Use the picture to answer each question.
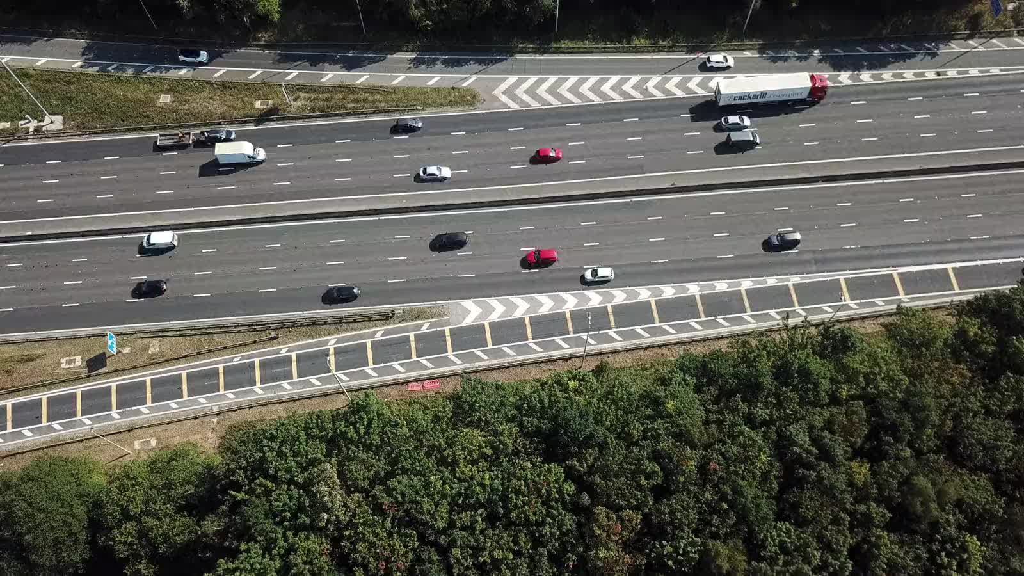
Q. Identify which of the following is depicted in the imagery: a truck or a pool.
truck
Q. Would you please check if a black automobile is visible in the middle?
Yes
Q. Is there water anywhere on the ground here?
No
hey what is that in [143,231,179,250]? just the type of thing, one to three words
vehicle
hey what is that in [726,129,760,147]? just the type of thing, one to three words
vehicle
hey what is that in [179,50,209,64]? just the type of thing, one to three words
car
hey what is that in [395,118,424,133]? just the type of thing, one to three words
car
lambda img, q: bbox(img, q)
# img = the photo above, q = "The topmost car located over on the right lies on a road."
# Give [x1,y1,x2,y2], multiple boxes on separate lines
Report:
[705,55,734,69]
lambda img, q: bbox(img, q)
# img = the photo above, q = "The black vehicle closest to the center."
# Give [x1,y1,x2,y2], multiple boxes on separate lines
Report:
[436,233,468,249]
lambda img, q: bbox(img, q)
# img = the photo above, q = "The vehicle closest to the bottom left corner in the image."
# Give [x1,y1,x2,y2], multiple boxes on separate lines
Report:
[138,280,170,296]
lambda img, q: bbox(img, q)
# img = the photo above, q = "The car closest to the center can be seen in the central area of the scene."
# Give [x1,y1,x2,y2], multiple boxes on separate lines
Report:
[527,248,558,265]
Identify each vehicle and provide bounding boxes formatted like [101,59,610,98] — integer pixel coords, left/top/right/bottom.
[583,266,615,283]
[215,141,266,166]
[720,115,751,130]
[713,75,826,111]
[328,284,361,301]
[768,231,804,248]
[143,231,179,250]
[138,280,170,296]
[537,147,564,163]
[705,55,734,69]
[202,128,236,144]
[420,166,451,182]
[395,118,424,133]
[179,50,209,64]
[726,129,760,147]
[527,248,558,265]
[436,233,468,249]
